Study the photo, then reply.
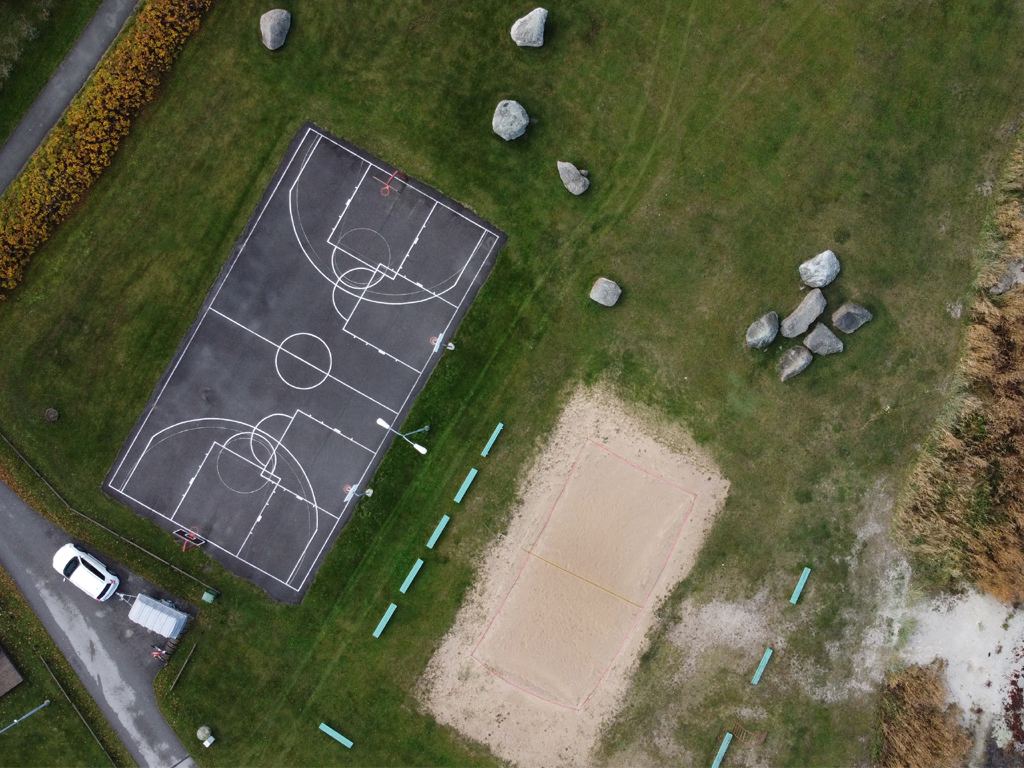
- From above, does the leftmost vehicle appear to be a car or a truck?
car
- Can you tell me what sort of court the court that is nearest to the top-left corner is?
basketball court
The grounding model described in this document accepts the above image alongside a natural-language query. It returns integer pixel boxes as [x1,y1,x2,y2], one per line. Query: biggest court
[102,121,508,605]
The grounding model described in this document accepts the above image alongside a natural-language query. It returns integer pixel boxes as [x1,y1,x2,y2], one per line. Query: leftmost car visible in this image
[54,543,121,601]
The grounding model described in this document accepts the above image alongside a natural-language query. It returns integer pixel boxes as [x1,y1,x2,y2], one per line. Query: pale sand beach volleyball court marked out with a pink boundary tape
[428,393,718,767]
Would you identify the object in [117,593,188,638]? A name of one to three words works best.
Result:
trailer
